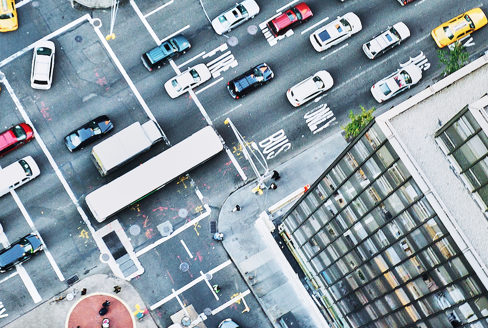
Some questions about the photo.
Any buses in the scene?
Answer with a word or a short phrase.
Yes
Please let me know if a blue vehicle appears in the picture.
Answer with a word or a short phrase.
Yes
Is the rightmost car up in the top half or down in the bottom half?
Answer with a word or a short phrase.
top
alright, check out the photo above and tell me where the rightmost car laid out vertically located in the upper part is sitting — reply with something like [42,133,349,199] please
[31,42,55,90]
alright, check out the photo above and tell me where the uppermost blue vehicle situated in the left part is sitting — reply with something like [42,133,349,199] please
[142,33,191,71]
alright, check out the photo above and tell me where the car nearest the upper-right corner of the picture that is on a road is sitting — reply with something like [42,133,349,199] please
[430,8,487,50]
